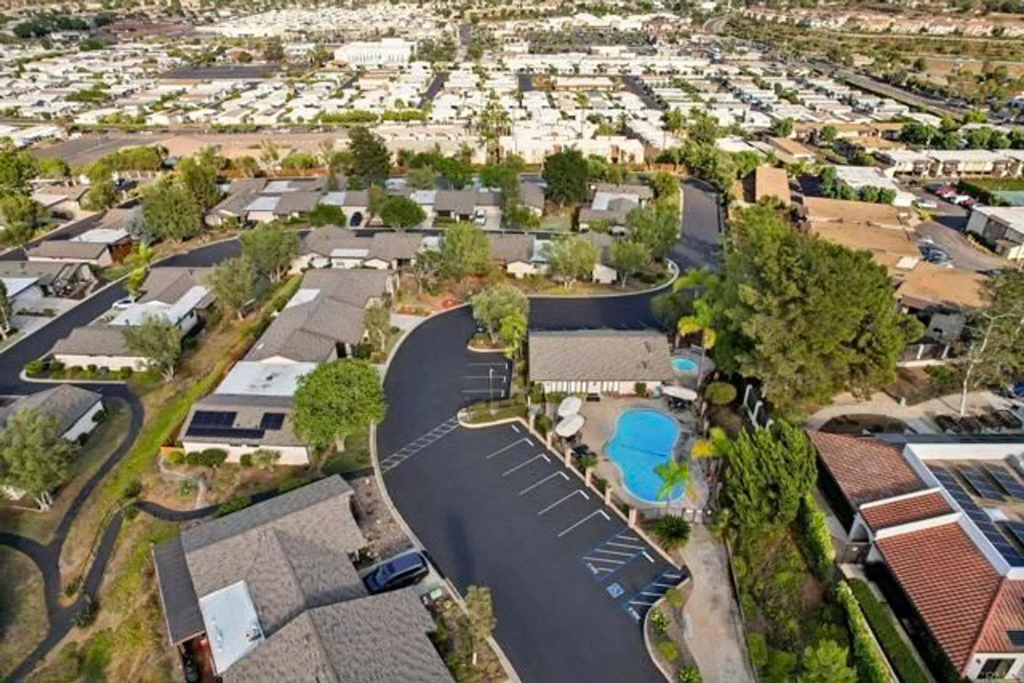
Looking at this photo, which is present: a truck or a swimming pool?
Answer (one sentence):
The one in the frame is a swimming pool.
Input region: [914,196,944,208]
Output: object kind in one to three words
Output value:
vehicle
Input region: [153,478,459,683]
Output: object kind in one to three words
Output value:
house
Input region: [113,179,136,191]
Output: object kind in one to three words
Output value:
vehicle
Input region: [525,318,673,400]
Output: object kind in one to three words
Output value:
building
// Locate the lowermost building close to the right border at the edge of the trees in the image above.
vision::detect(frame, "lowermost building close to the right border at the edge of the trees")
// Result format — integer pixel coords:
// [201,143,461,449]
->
[813,404,1024,678]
